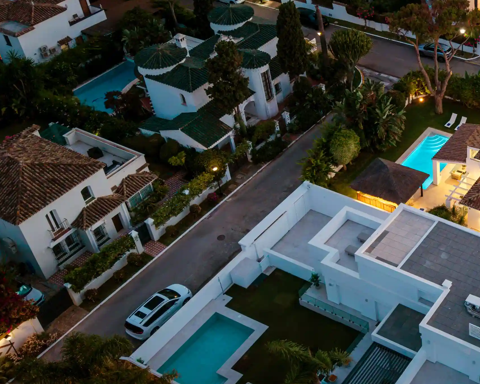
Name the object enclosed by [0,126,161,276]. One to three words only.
house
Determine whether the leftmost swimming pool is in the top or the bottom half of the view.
top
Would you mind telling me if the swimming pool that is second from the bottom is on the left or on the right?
right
